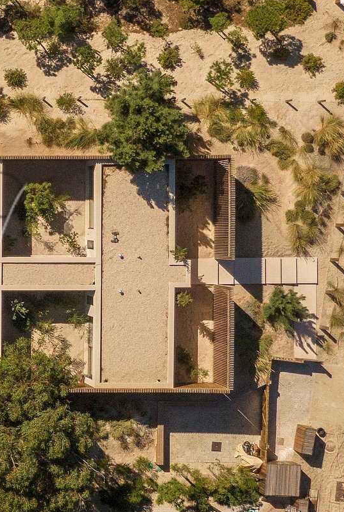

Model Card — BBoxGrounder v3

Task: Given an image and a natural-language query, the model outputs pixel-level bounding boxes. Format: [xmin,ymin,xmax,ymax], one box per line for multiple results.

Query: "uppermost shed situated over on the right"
[293,422,317,455]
